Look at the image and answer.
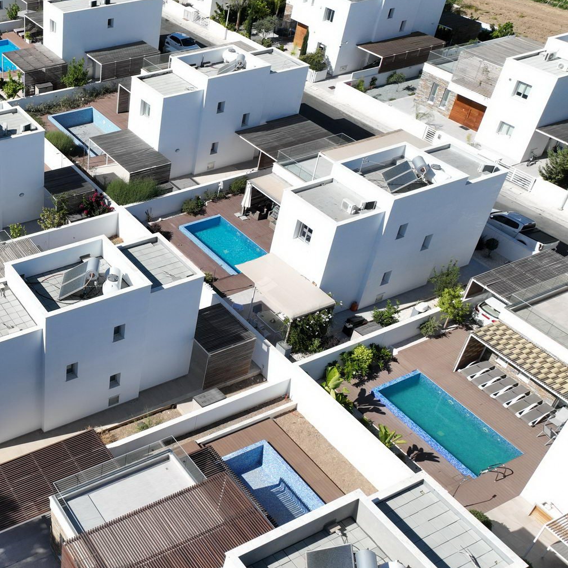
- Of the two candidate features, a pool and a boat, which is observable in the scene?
pool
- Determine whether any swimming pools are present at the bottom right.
Yes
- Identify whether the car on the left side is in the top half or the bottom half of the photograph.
top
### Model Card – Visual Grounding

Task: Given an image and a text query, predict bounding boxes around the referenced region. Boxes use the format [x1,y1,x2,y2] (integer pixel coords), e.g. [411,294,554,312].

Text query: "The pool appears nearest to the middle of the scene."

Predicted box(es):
[181,214,269,270]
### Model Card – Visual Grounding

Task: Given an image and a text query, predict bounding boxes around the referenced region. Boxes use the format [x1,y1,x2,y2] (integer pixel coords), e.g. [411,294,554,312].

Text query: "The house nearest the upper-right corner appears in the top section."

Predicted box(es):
[422,31,568,159]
